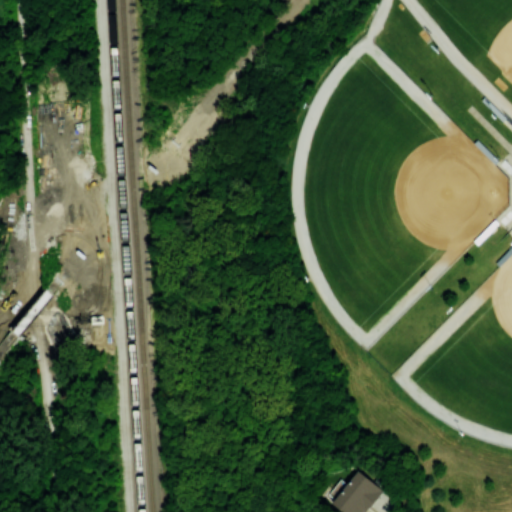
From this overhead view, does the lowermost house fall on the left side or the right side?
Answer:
right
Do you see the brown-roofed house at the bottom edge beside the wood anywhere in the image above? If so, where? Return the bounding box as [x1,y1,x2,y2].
[326,472,384,512]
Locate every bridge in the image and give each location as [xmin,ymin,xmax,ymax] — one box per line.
[0,284,60,362]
